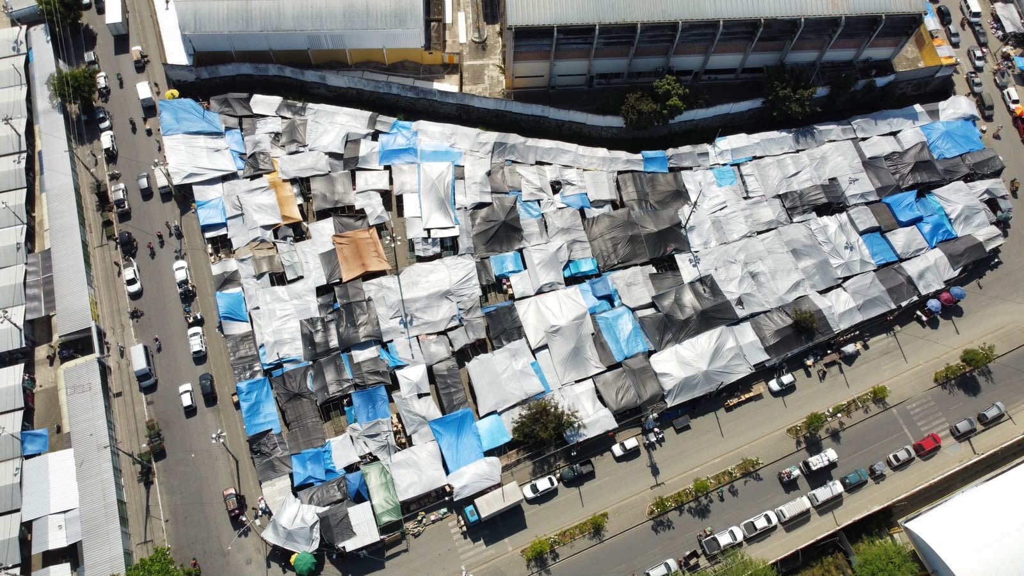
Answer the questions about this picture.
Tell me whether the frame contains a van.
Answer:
Yes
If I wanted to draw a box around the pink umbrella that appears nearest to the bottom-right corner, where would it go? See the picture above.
[938,293,954,307]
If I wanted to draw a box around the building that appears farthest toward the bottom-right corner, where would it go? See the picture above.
[876,457,1024,576]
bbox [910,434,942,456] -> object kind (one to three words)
car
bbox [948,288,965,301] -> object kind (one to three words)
umbrella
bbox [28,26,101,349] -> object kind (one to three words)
building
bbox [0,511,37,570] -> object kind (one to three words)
shed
